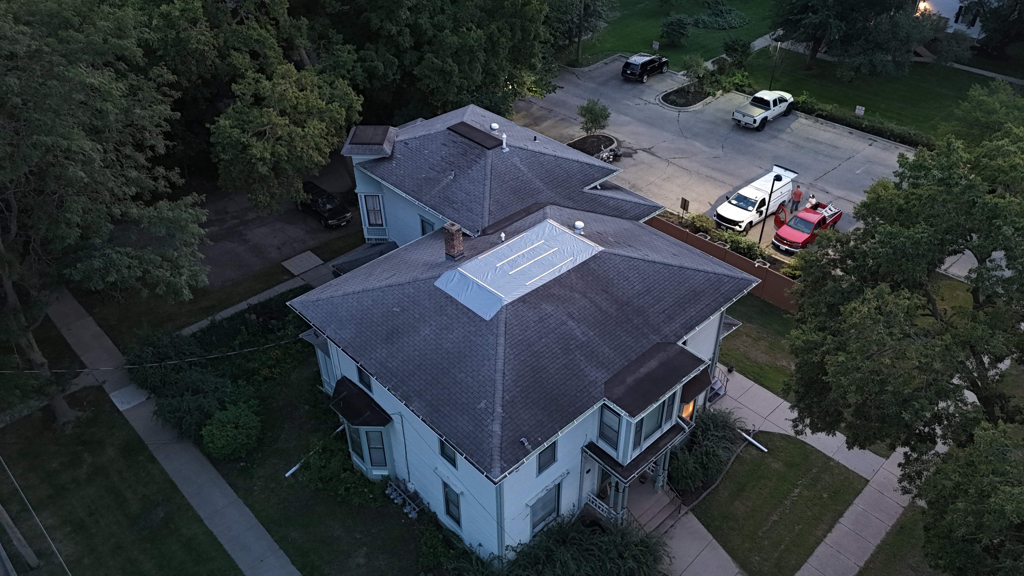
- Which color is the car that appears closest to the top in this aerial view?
black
